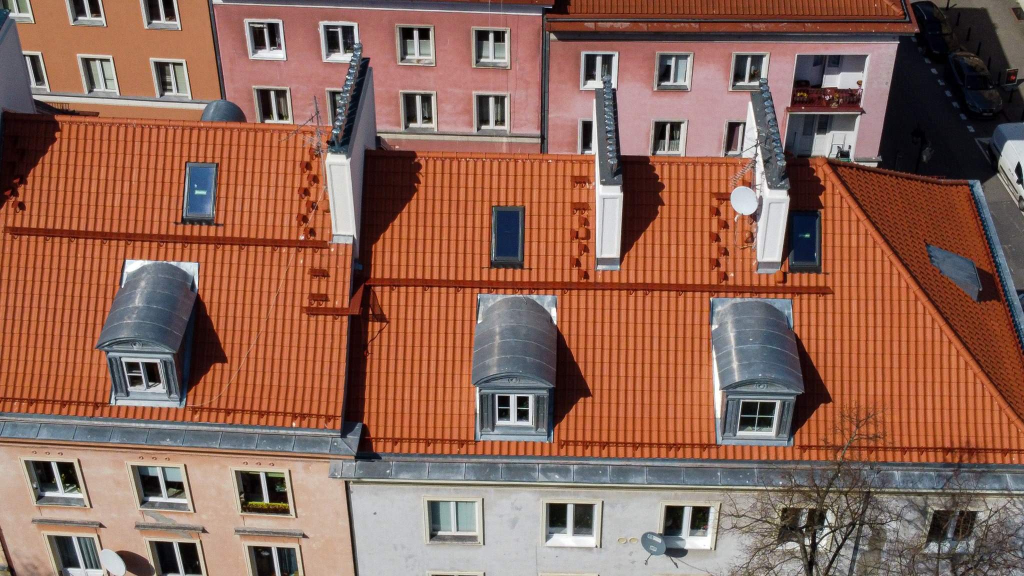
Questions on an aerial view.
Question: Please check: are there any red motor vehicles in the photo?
No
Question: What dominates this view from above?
buildings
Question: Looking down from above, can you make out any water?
No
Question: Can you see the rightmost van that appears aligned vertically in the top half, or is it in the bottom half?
top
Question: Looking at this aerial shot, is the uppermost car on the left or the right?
right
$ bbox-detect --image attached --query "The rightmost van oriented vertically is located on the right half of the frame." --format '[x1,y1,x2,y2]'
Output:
[990,120,1024,203]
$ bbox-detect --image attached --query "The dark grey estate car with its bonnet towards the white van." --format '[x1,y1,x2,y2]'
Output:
[945,52,1007,119]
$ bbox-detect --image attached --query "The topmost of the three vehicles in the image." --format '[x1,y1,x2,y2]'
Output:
[914,7,962,62]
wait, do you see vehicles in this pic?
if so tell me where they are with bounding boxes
[945,52,1007,119]
[914,7,962,62]
[990,120,1024,203]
